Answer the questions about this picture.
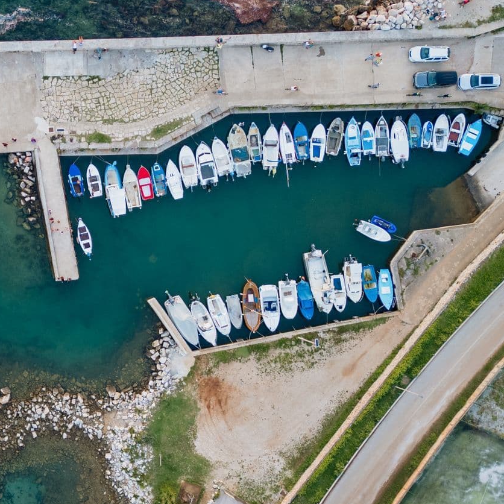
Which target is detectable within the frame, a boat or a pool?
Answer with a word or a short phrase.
boat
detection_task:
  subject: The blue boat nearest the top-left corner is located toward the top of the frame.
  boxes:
[67,156,85,206]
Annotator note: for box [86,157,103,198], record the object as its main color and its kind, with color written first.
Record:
white boat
